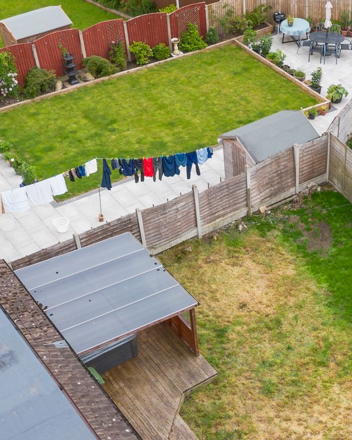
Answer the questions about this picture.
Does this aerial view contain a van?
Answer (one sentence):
No, the scene contains no van.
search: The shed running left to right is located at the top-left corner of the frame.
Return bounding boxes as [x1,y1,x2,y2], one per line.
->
[0,11,84,50]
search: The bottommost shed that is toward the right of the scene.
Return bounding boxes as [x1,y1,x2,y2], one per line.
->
[214,107,320,176]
